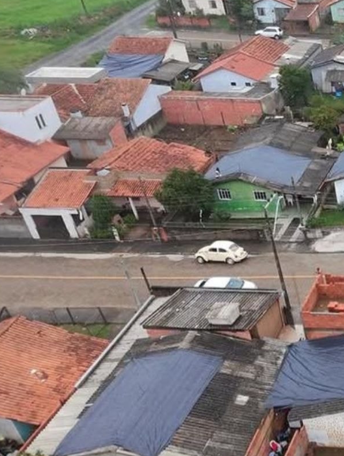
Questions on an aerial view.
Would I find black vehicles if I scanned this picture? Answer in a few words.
No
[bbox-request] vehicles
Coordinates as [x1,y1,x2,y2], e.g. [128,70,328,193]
[191,243,249,266]
[195,274,257,290]
[253,24,284,38]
